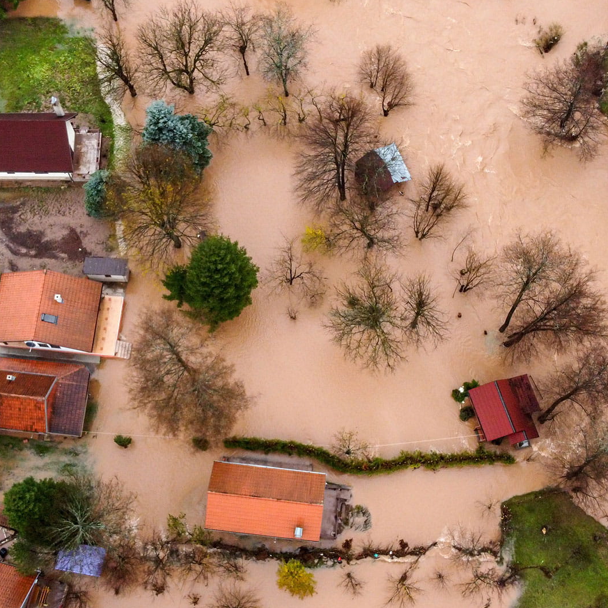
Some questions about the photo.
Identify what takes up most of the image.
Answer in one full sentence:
For the most part, this view shows water.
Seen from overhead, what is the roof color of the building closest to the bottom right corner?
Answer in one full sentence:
The roof over the building closest to the bottom right corner appears red.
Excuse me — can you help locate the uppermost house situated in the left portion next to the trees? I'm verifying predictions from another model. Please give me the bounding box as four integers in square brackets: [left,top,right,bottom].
[0,98,101,185]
